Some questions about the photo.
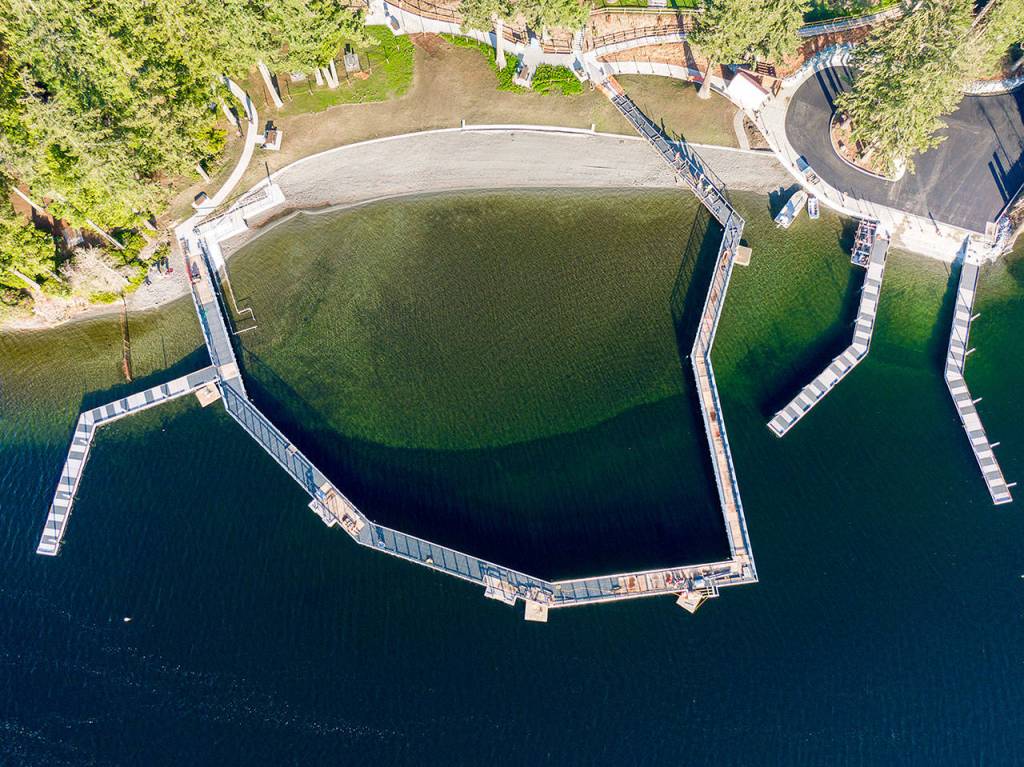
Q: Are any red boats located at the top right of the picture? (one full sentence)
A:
No, there is no red boat at the top right of the picture.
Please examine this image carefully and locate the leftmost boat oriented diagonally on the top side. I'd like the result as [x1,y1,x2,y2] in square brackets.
[774,188,808,229]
